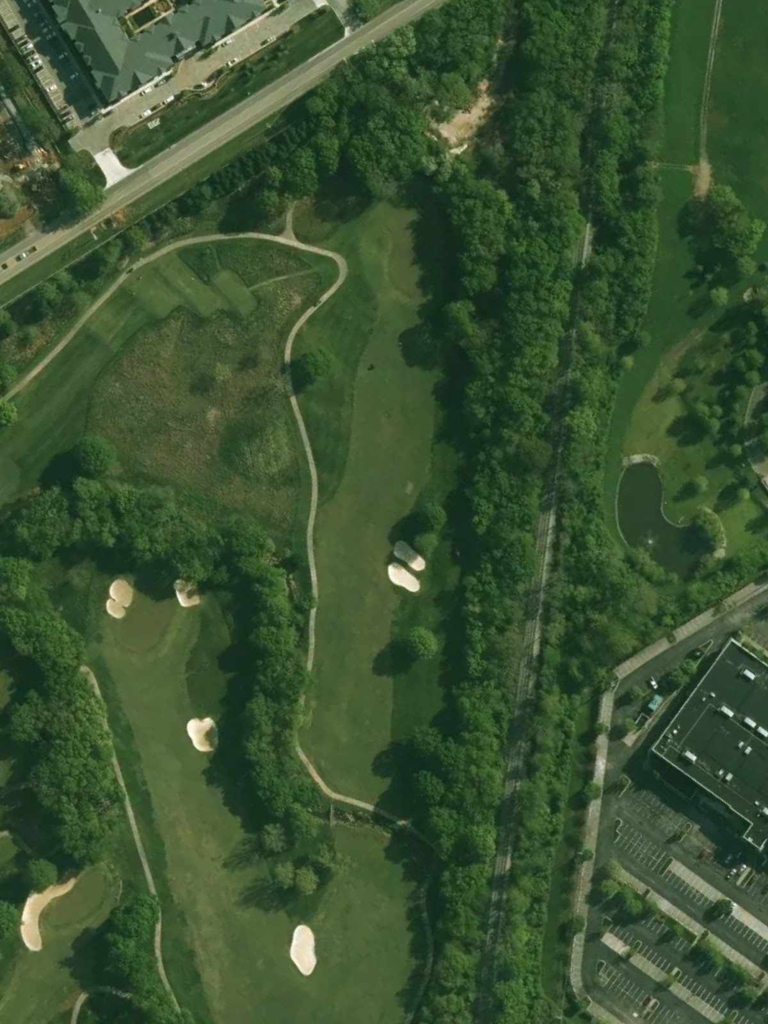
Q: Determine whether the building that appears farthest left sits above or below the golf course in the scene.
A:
above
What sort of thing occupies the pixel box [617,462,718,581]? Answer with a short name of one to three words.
pond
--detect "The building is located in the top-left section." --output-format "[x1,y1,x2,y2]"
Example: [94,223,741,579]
[48,0,275,100]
